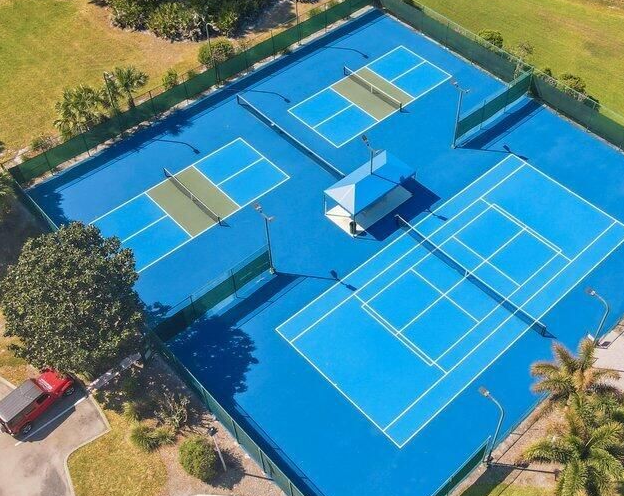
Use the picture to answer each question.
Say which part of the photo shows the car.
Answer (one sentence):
The car appears toward the bottom left of the photo.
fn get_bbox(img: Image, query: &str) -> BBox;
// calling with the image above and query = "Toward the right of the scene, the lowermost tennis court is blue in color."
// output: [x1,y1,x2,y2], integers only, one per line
[276,154,624,447]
